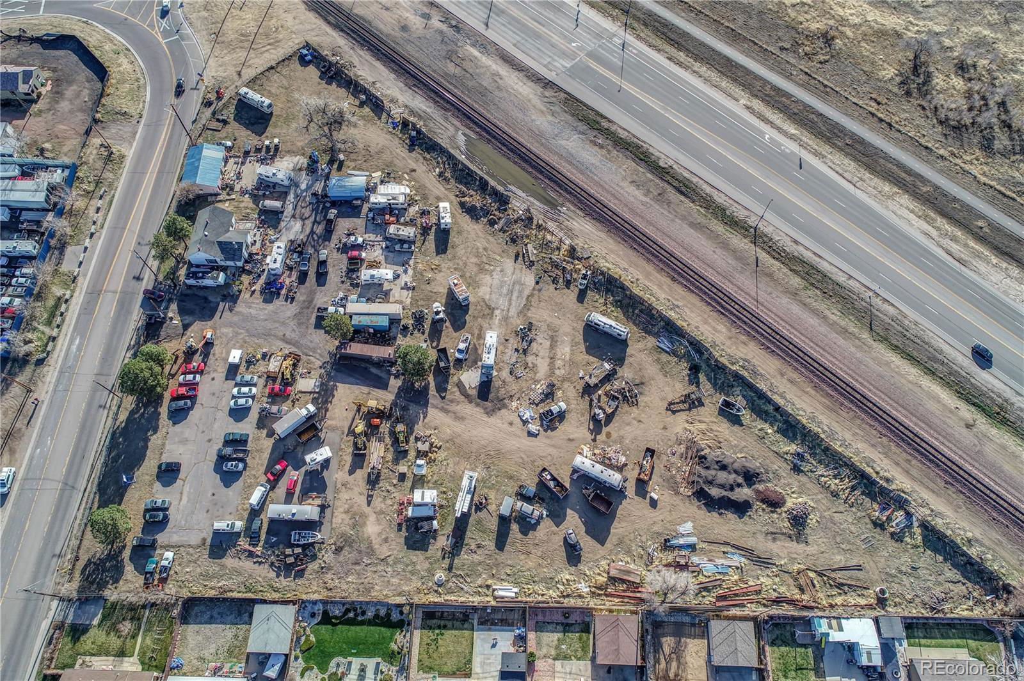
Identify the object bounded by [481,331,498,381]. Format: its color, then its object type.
white camper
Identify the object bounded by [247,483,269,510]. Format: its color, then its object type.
white vehicle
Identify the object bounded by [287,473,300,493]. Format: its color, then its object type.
red vehicle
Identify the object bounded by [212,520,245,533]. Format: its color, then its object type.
white vehicle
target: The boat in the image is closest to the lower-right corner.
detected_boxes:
[718,396,744,415]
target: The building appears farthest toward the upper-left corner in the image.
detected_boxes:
[0,71,46,101]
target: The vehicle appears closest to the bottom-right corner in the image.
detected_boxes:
[970,343,993,361]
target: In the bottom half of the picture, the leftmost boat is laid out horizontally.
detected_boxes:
[289,530,327,545]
